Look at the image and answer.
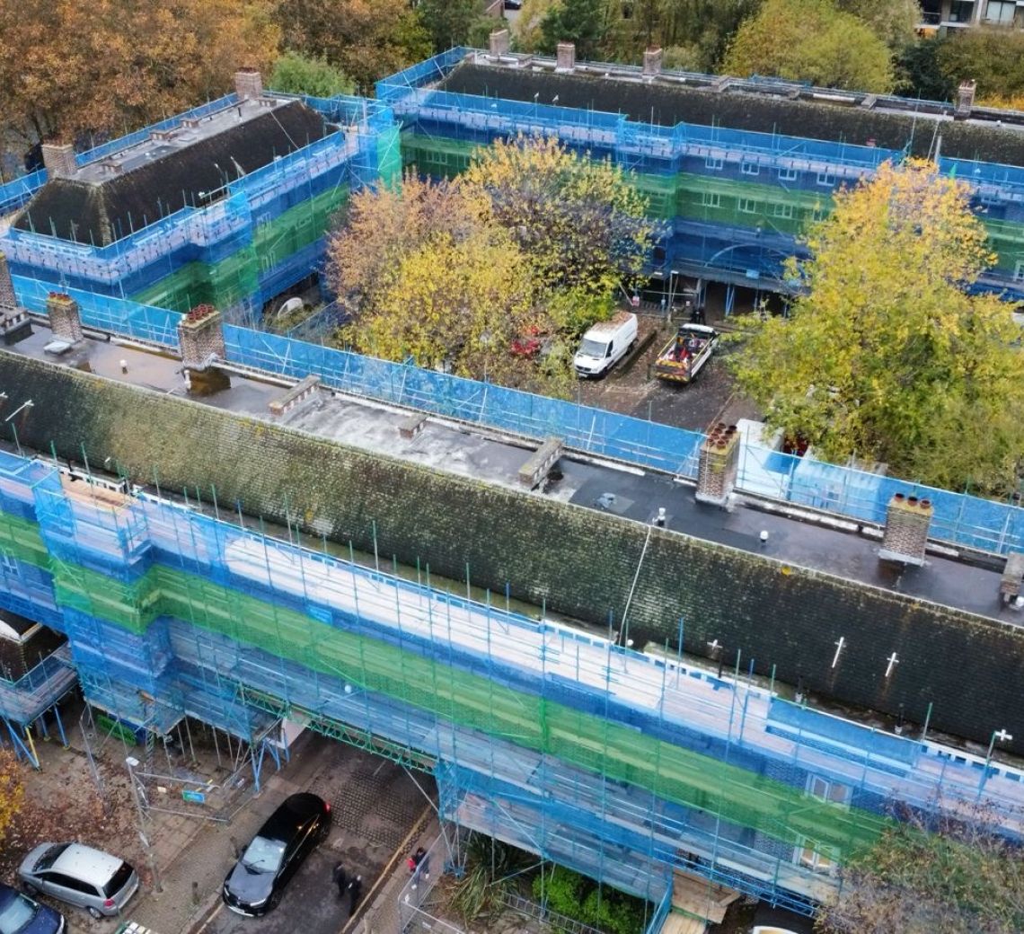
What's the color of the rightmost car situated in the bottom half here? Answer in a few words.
black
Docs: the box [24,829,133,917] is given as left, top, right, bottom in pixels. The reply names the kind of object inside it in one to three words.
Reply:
car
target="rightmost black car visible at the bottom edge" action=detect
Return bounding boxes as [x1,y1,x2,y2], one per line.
[228,791,341,908]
